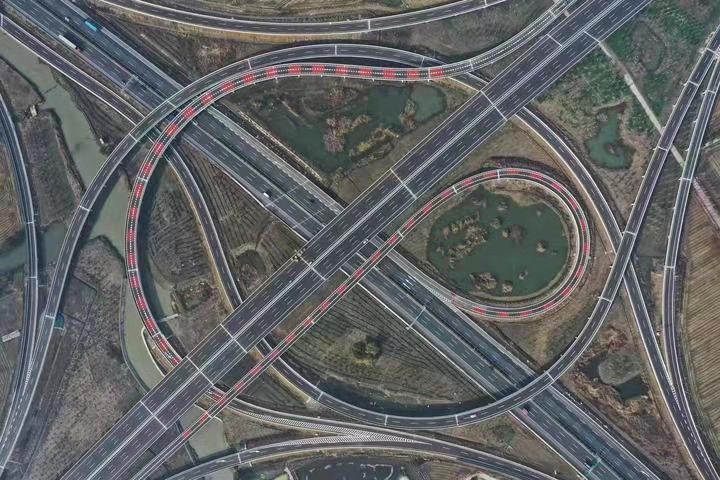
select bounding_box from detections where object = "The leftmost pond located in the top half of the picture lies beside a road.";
[252,85,446,173]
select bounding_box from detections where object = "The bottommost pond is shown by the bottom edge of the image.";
[288,455,409,480]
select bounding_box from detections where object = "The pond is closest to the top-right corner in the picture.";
[587,105,632,169]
